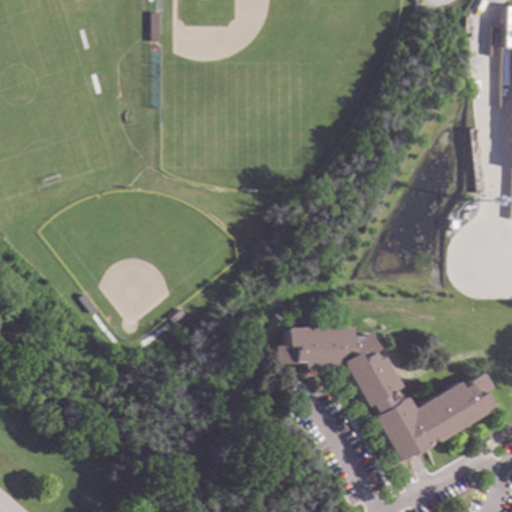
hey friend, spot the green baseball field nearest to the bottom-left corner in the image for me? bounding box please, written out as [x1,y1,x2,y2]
[42,190,236,339]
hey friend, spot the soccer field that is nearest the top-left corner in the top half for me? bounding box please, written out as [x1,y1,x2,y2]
[0,0,112,200]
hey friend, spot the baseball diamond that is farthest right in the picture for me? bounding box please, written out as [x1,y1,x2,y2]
[162,0,400,190]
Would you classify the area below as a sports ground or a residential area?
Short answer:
sports ground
